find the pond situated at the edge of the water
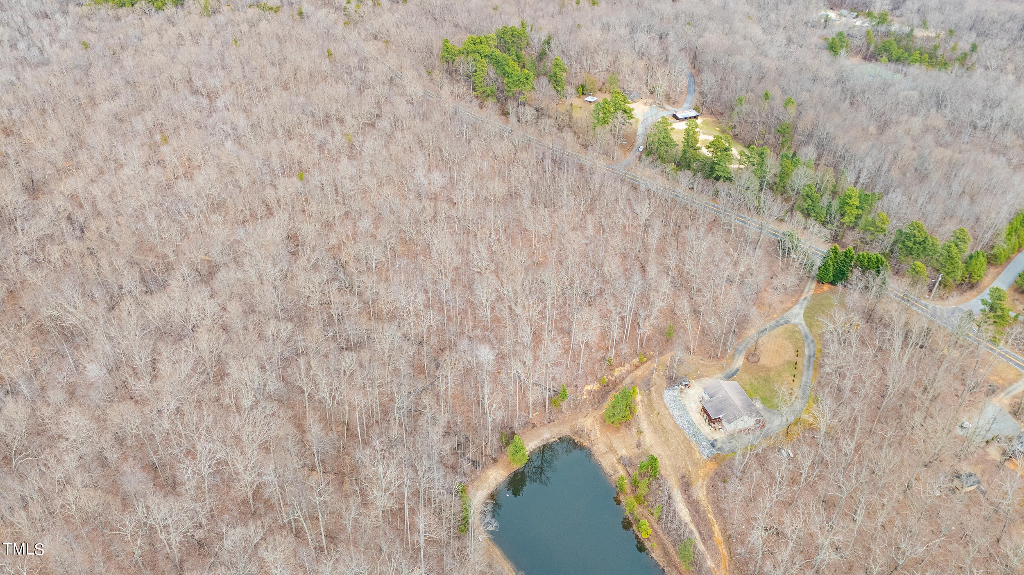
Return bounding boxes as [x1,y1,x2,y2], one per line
[488,436,665,575]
